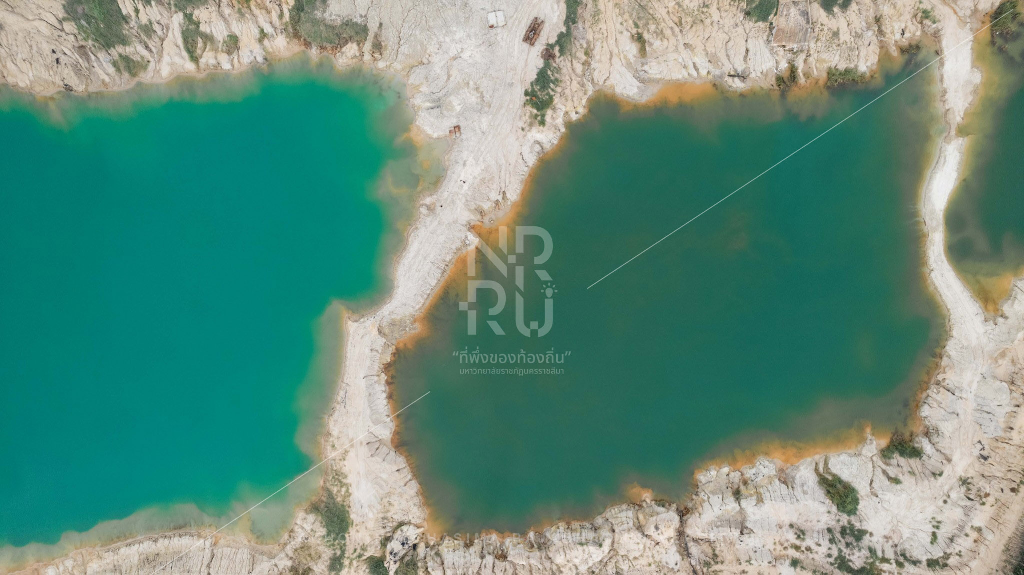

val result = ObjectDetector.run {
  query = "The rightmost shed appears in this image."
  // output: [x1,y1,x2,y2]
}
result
[772,0,812,52]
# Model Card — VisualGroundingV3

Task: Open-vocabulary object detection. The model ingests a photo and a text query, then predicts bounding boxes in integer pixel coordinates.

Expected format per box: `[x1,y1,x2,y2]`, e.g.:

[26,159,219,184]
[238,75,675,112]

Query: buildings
[487,9,507,28]
[772,0,812,52]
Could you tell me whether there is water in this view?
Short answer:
Yes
